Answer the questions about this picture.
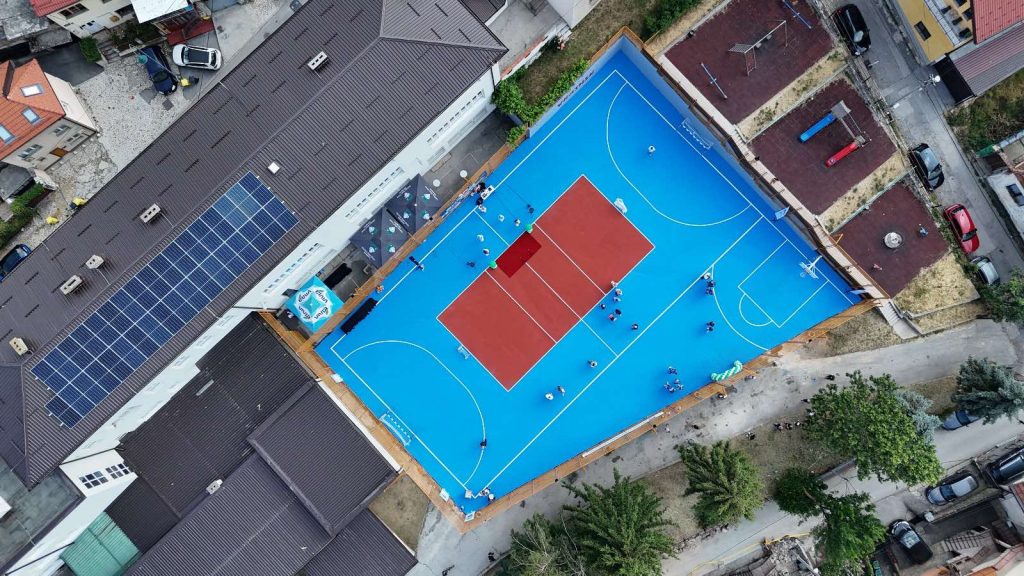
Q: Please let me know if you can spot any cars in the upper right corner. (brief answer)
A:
Yes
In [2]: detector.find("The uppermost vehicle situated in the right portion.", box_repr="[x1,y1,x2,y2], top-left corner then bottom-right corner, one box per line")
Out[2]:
[833,0,874,60]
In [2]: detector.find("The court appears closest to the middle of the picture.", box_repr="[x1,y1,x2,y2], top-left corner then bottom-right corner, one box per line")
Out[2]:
[315,50,863,513]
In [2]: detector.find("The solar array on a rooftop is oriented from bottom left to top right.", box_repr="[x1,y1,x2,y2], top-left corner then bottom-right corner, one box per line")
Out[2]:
[31,171,298,430]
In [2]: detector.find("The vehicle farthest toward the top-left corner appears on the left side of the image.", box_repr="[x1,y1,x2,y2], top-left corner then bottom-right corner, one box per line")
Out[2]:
[141,47,179,99]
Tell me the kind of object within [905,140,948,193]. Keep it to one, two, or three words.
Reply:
car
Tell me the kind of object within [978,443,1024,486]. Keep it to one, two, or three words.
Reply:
car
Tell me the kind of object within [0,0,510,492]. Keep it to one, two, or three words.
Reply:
building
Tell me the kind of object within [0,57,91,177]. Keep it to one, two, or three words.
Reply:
house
